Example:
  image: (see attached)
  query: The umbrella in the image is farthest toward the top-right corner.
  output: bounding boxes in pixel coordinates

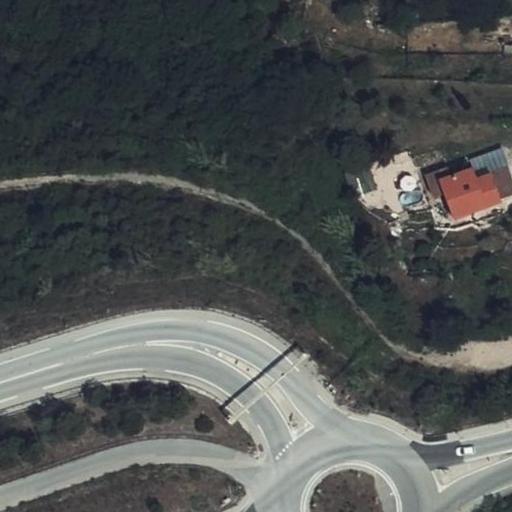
[400,176,416,192]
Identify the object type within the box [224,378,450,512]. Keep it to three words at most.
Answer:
roundabout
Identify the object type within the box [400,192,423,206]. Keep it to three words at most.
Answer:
swimming pool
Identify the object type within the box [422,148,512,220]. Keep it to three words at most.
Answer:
house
